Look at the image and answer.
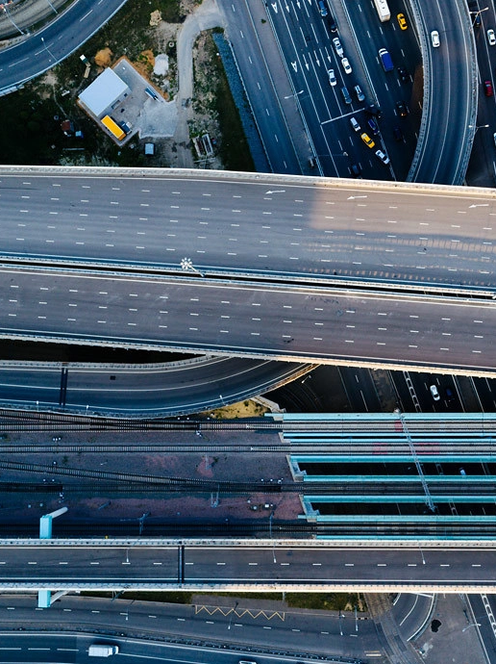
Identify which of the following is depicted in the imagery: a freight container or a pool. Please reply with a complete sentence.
The image shows a freight container.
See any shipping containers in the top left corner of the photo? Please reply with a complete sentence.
Yes, a shipping container is visible in the top left corner of the photo.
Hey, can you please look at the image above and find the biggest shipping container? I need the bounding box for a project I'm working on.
[101,115,128,143]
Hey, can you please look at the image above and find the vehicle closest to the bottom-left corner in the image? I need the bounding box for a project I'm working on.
[86,645,118,659]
